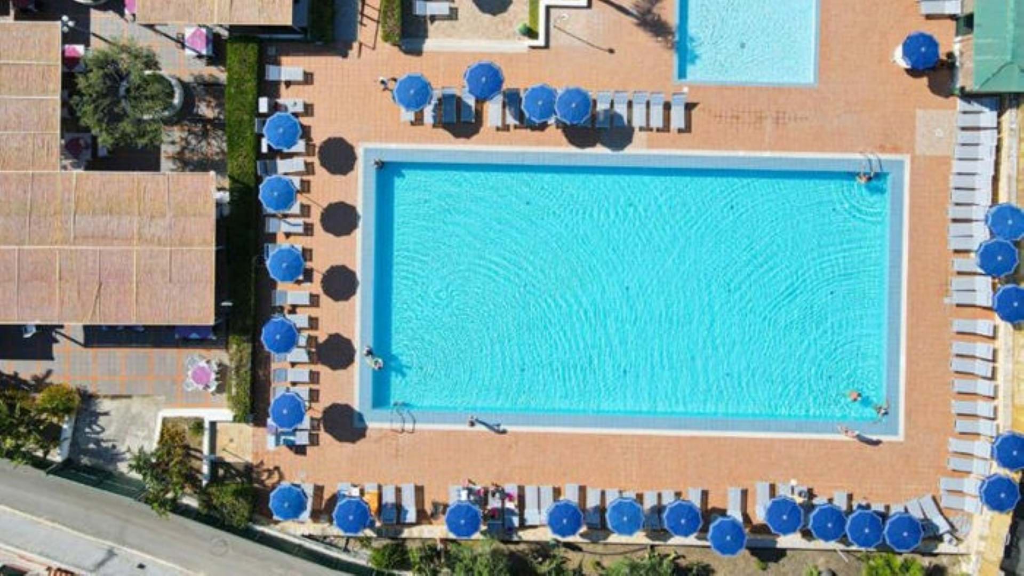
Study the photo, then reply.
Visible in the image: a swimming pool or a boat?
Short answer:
swimming pool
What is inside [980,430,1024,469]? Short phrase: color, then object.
blue umbrella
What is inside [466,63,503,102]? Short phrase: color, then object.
blue umbrella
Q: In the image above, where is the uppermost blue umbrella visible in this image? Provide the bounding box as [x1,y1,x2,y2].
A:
[893,33,936,72]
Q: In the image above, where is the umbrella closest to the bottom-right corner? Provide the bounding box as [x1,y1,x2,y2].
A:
[970,472,1015,511]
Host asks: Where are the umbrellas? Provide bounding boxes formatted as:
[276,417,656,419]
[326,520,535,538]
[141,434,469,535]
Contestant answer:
[547,498,583,535]
[444,499,482,537]
[663,497,701,535]
[967,238,1012,277]
[261,176,298,213]
[262,316,300,353]
[267,114,303,150]
[762,495,801,533]
[271,481,309,518]
[982,284,1024,323]
[844,509,880,547]
[395,76,432,113]
[521,87,557,124]
[334,494,373,532]
[707,515,745,553]
[882,511,920,549]
[272,390,309,427]
[970,472,1015,511]
[270,245,306,282]
[981,202,1023,241]
[980,430,1024,469]
[893,33,936,72]
[807,506,845,543]
[605,496,642,533]
[466,63,503,102]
